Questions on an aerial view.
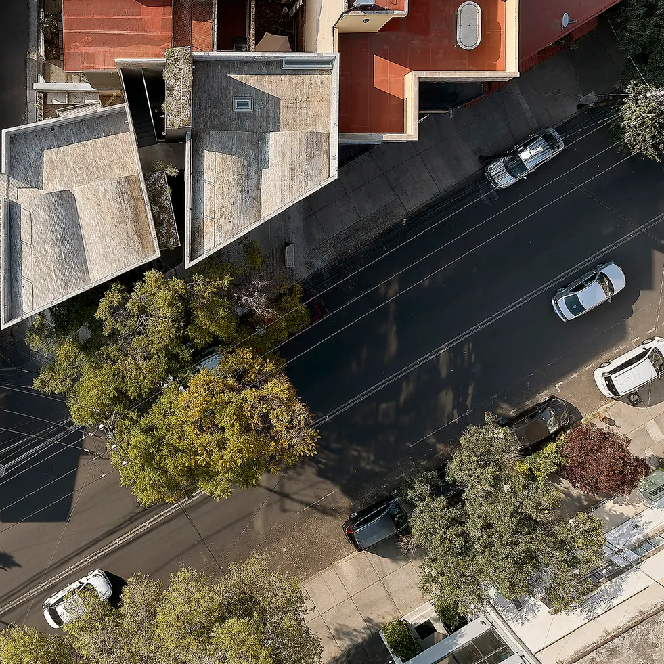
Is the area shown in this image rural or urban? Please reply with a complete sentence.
The area is urban.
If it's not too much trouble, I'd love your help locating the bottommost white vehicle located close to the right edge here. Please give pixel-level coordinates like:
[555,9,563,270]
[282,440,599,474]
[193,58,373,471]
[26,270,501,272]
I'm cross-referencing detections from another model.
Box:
[591,337,664,400]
